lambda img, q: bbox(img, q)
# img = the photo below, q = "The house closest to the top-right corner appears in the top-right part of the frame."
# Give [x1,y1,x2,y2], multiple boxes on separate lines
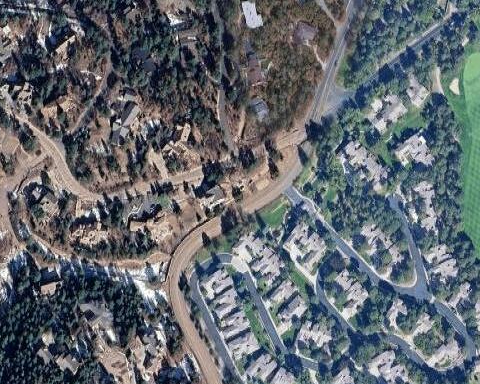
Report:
[403,79,434,106]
